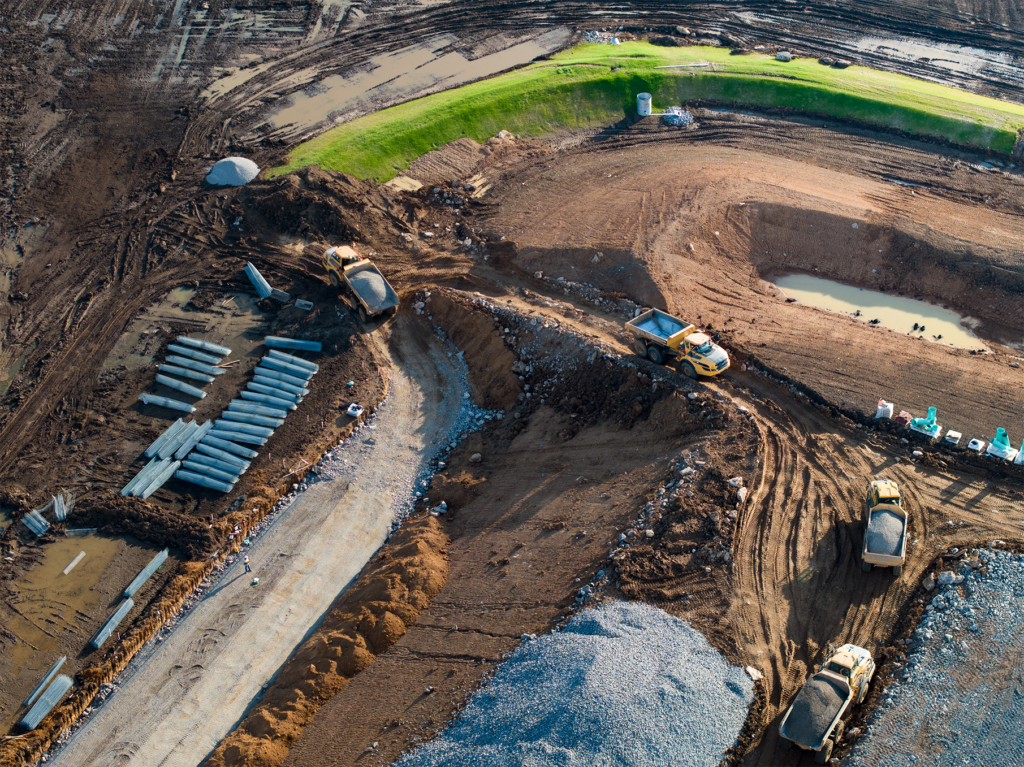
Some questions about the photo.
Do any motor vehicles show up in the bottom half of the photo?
Yes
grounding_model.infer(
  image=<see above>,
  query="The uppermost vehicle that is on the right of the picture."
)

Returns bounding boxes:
[623,307,738,386]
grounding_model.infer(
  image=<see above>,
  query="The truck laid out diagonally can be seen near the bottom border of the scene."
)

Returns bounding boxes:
[776,634,881,767]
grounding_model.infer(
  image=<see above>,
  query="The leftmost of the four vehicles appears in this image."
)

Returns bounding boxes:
[323,246,399,330]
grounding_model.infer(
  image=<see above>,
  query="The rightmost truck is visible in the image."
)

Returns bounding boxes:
[859,473,909,577]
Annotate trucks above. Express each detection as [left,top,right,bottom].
[776,634,881,767]
[623,307,738,386]
[859,473,909,577]
[323,246,399,330]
